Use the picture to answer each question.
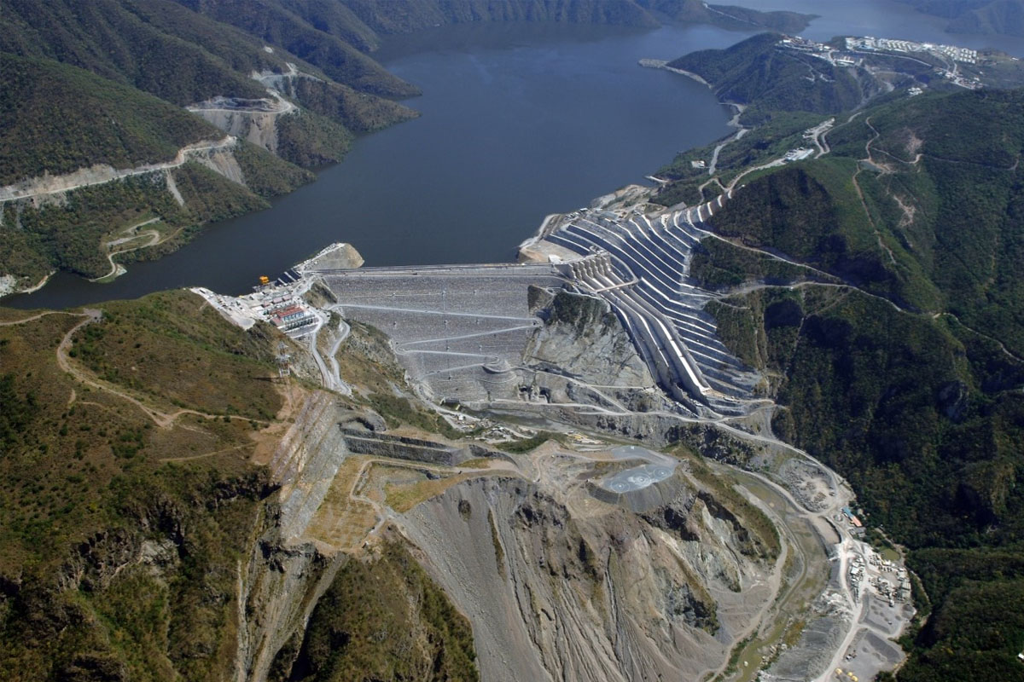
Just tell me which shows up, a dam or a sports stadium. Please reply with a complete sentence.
I can see a dam in this picture.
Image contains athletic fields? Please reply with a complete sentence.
No, the photo shows no athletic field.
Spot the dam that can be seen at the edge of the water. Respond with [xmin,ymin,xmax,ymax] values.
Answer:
[312,264,567,412]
